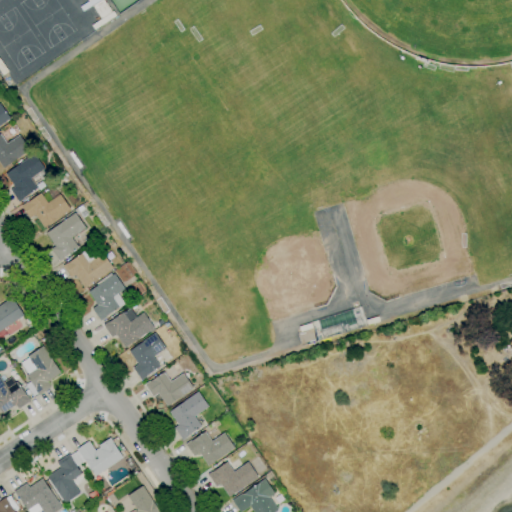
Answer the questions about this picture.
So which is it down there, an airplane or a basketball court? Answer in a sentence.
It is a basketball court that can be seen here.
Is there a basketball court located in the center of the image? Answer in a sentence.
No, no basketball court is visible in the center of the image.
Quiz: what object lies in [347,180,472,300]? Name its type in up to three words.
baseball field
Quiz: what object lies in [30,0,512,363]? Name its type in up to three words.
sports field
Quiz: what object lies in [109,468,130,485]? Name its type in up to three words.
swimming pool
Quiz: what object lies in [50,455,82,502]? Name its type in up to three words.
house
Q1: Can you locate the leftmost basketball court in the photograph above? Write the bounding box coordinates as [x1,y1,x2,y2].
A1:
[0,7,46,70]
